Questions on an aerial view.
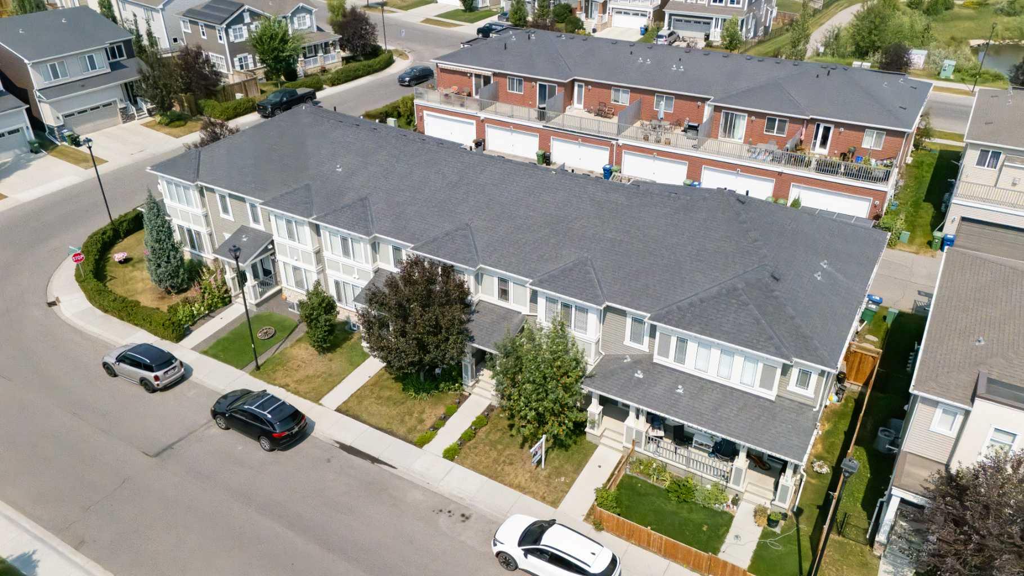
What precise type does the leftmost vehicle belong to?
car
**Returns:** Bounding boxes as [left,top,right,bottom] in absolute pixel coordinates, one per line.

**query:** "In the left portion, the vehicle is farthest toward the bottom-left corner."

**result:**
[103,341,184,397]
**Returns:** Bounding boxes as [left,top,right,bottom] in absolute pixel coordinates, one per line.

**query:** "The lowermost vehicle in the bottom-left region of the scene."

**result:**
[208,389,307,456]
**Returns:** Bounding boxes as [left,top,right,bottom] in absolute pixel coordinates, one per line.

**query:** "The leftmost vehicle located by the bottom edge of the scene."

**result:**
[485,516,625,576]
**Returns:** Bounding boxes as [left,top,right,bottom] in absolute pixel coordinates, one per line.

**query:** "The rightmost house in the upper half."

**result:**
[942,80,1024,258]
